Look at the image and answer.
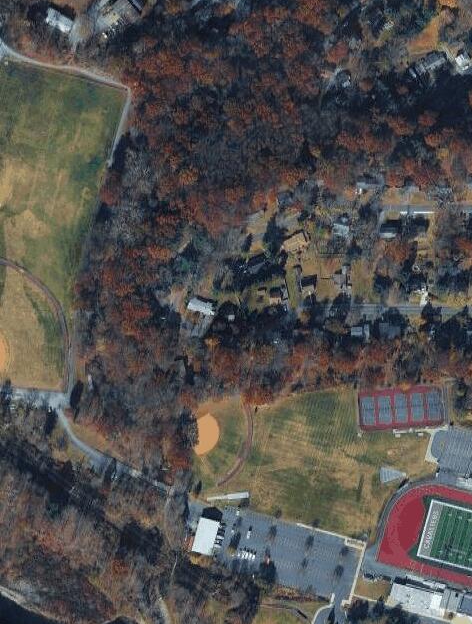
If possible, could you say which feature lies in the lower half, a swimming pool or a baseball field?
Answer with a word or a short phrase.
baseball field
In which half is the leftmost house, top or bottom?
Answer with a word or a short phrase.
top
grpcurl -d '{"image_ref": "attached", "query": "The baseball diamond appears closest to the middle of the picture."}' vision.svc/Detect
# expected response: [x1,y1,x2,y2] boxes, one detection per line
[193,400,253,487]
